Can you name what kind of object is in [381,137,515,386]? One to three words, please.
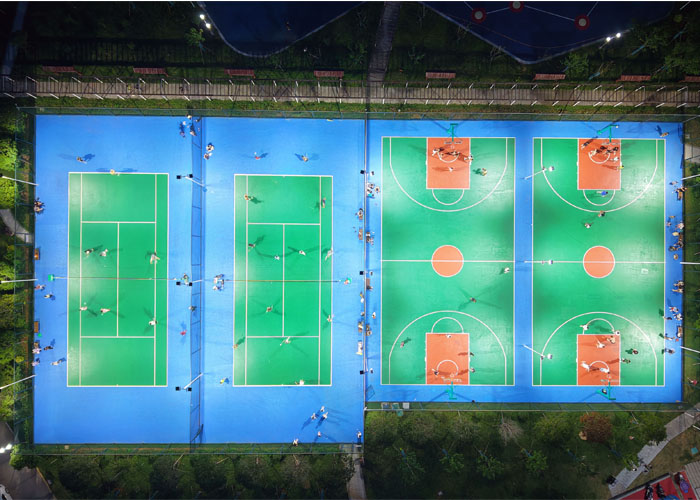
basketball court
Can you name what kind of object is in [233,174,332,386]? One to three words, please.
tennis court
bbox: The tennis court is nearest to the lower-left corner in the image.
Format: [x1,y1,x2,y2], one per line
[68,173,167,386]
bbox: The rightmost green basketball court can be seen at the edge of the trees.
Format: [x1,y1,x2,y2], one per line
[533,137,665,386]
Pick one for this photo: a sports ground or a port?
sports ground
